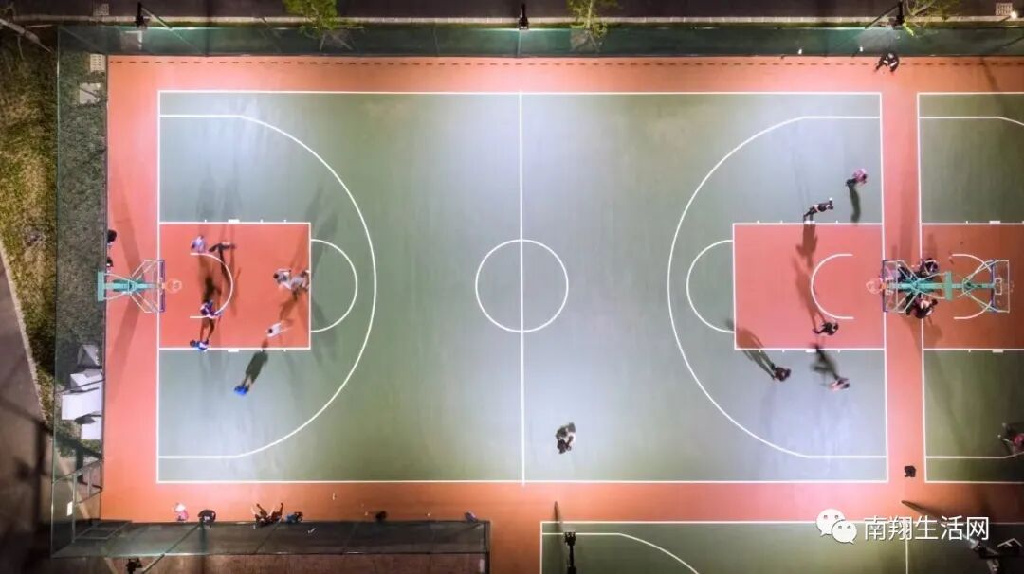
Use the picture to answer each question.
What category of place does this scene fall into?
sports ground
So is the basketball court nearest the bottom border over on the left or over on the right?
right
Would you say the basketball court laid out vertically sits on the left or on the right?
right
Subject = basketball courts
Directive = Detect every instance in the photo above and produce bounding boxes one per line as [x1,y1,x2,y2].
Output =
[541,518,1024,574]
[919,93,1024,481]
[156,89,887,486]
